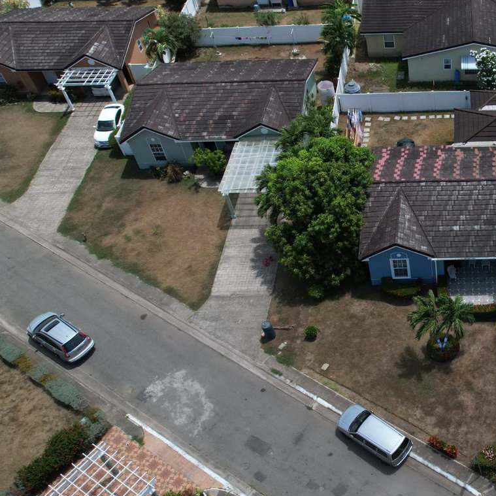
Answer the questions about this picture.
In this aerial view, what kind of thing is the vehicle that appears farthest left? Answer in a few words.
car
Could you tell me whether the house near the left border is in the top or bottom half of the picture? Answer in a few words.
top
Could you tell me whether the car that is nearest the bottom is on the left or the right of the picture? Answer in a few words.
right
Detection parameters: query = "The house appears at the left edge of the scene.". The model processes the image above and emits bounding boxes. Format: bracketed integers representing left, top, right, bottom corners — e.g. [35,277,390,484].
[0,5,165,93]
